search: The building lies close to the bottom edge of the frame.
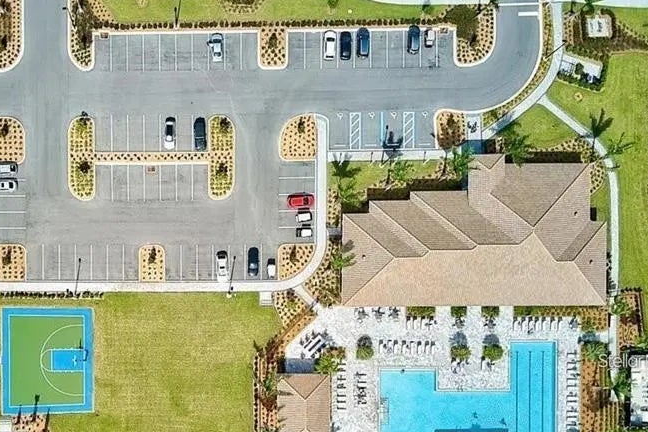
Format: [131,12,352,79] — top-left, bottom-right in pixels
[277,373,330,432]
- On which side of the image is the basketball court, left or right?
left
